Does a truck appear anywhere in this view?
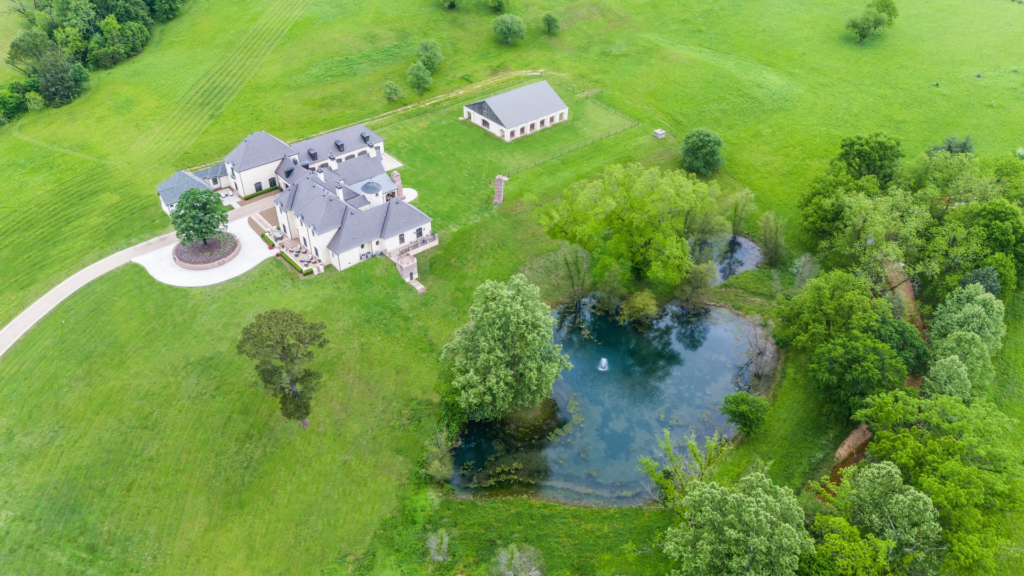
No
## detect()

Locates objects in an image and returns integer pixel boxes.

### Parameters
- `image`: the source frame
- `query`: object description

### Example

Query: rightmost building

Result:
[463,80,570,141]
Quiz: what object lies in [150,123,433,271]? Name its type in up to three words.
house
